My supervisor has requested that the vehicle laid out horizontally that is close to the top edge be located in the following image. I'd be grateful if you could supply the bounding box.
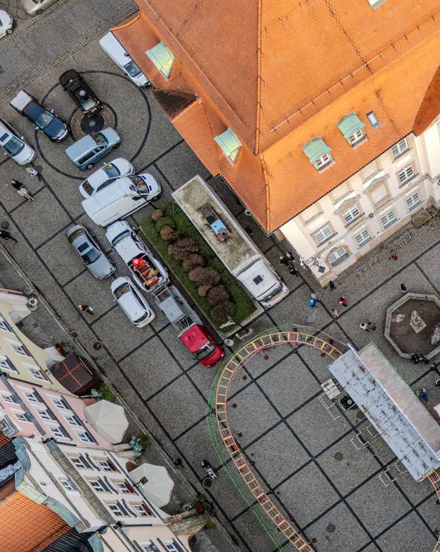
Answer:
[23,0,74,21]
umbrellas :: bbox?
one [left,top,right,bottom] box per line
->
[134,466,175,506]
[87,401,129,441]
